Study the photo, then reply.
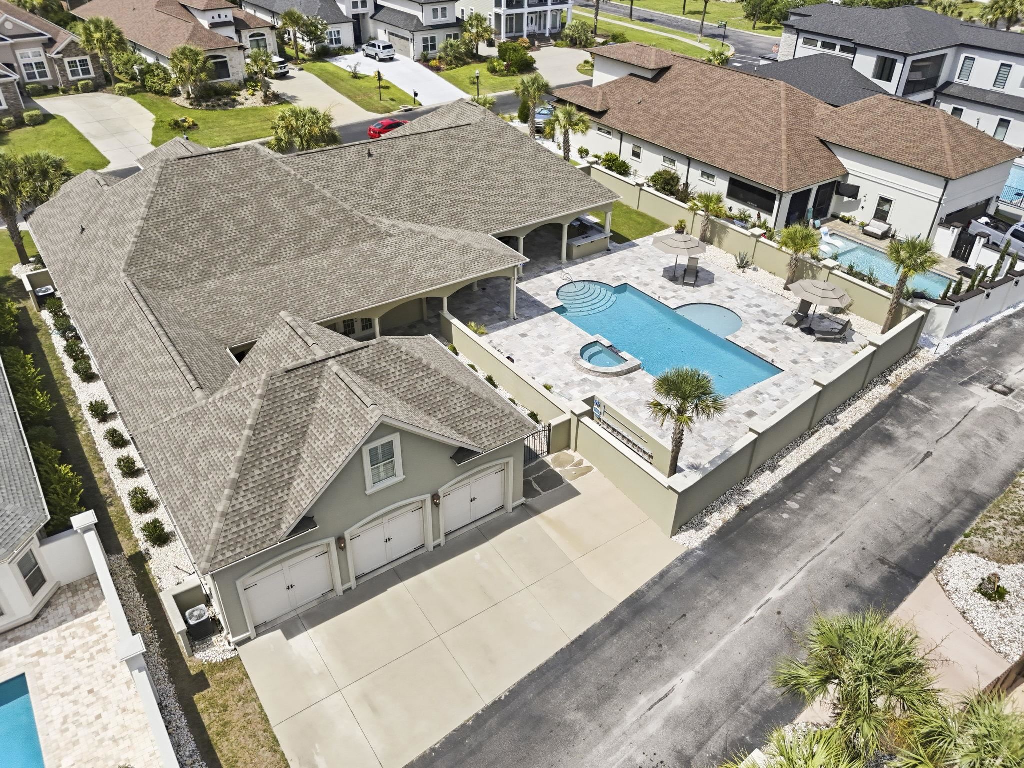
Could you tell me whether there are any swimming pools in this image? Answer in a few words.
Yes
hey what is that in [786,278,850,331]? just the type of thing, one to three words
umbrella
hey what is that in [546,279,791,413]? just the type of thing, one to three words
swimming pool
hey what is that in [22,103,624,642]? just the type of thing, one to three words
house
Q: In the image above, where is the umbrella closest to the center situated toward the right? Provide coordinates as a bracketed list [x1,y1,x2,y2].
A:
[652,232,706,280]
